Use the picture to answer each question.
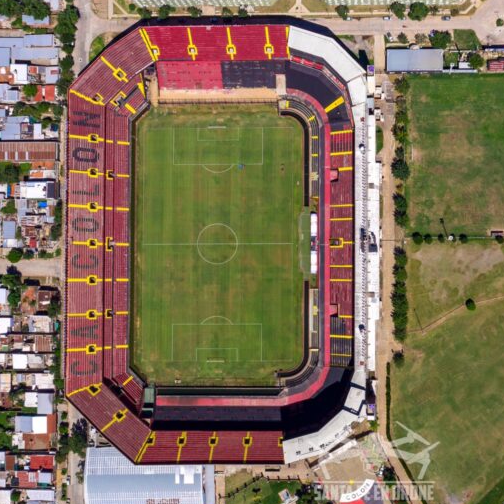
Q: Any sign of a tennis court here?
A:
No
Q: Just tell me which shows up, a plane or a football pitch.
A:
football pitch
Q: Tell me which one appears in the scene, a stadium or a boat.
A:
stadium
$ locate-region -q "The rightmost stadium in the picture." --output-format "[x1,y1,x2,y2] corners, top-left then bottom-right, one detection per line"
[63,24,368,465]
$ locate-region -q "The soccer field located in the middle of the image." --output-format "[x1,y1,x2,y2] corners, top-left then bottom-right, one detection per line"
[135,104,311,386]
